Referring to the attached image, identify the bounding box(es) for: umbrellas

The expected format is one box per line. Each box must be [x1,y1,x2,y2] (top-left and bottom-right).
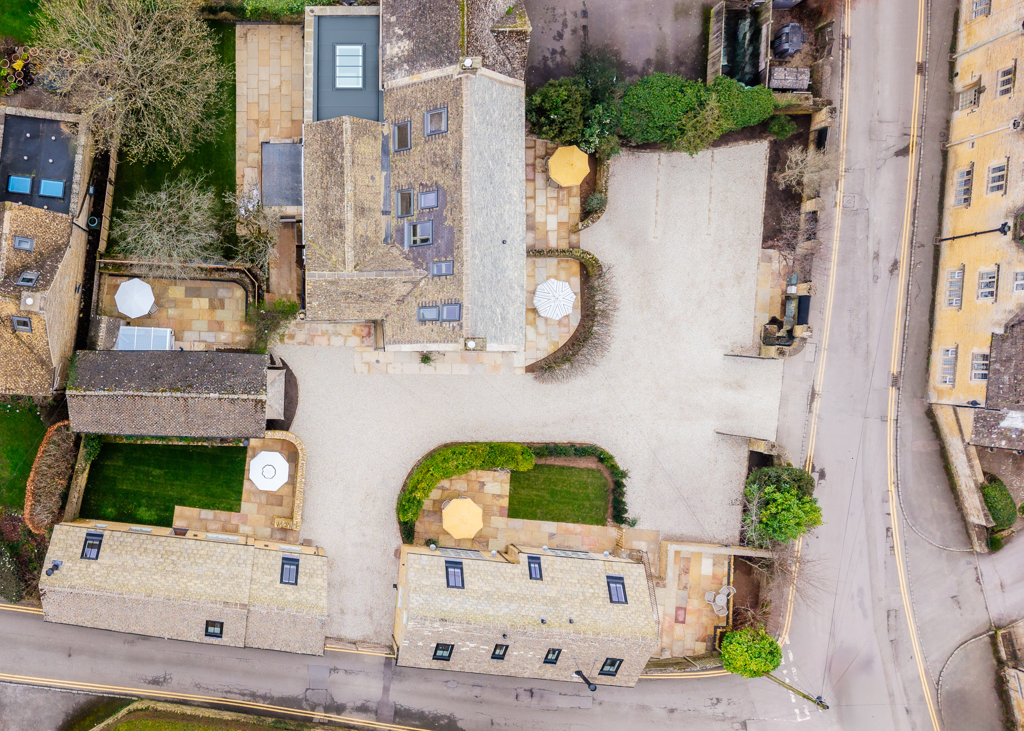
[533,279,575,320]
[443,499,481,537]
[115,278,155,318]
[547,148,587,187]
[250,452,288,489]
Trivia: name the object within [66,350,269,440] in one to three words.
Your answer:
barn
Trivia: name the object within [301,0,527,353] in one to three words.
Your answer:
house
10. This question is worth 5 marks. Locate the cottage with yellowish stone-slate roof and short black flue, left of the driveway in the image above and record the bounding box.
[39,519,328,658]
